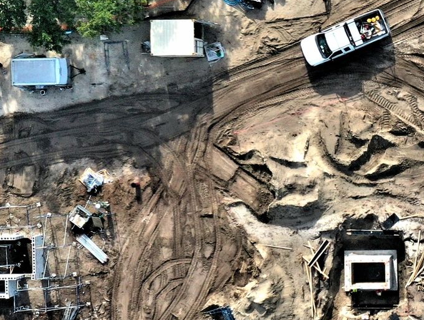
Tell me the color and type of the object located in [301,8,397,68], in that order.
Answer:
white truck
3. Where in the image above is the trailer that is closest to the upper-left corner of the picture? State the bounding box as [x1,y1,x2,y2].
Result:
[7,52,89,90]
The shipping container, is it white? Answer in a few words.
Yes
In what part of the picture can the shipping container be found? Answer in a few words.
top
